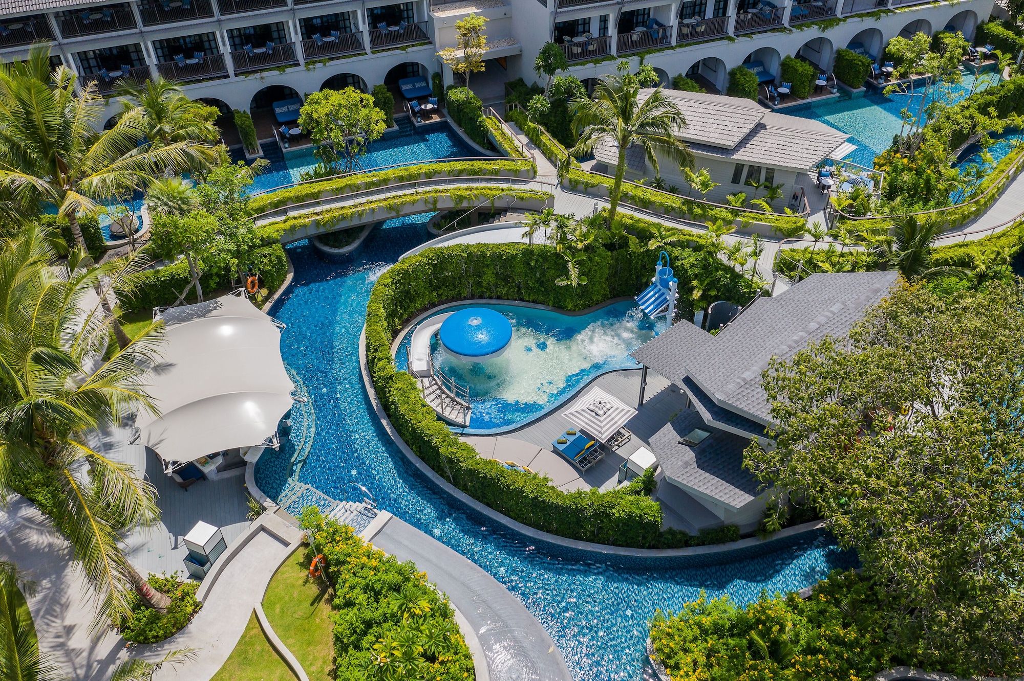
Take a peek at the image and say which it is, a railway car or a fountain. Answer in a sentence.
Looking from above, you can make out a fountain.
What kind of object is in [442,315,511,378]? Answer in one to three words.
fountain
